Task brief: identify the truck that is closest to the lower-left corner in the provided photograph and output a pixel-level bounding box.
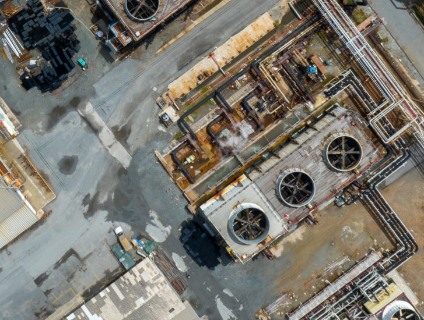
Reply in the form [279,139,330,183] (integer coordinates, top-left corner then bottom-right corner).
[113,226,138,257]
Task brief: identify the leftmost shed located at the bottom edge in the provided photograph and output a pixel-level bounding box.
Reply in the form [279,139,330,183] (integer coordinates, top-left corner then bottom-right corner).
[64,249,186,320]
